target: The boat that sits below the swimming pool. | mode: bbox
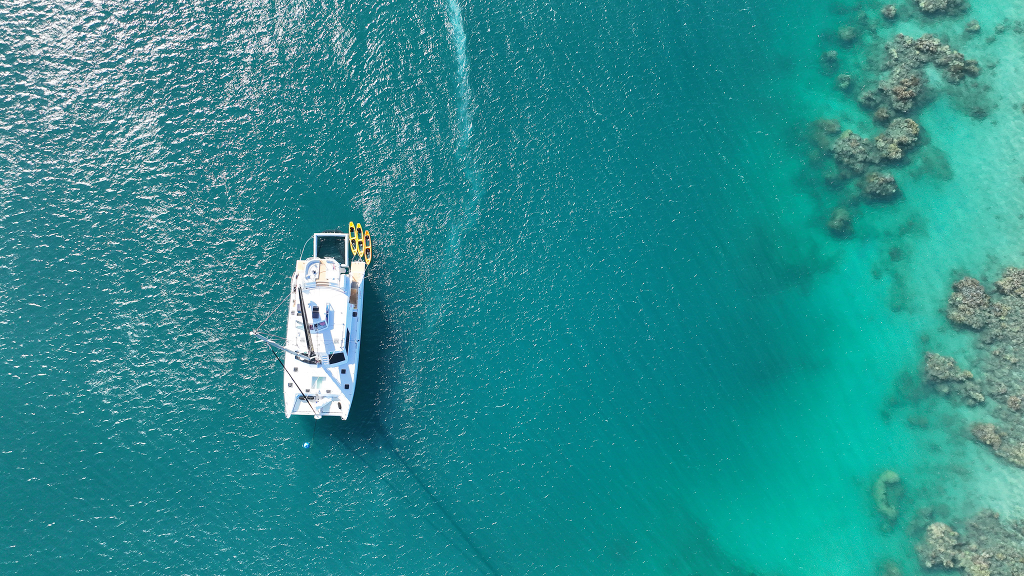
[248,258,368,421]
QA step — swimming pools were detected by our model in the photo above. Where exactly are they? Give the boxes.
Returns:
[312,233,349,268]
